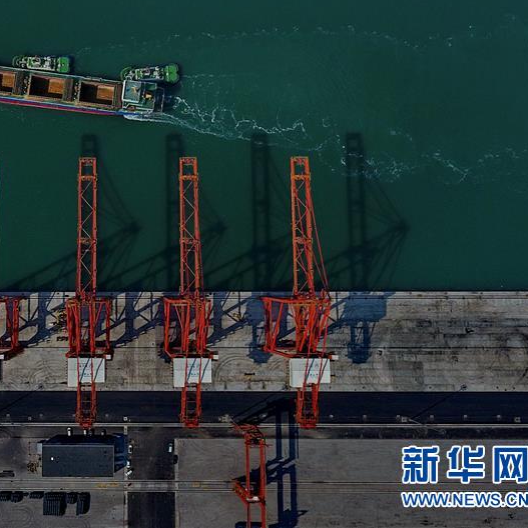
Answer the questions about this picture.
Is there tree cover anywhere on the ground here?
No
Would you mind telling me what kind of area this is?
port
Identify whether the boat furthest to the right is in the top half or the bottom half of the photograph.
top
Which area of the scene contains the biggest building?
bottom left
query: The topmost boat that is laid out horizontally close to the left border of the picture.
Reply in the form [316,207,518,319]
[12,54,71,74]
